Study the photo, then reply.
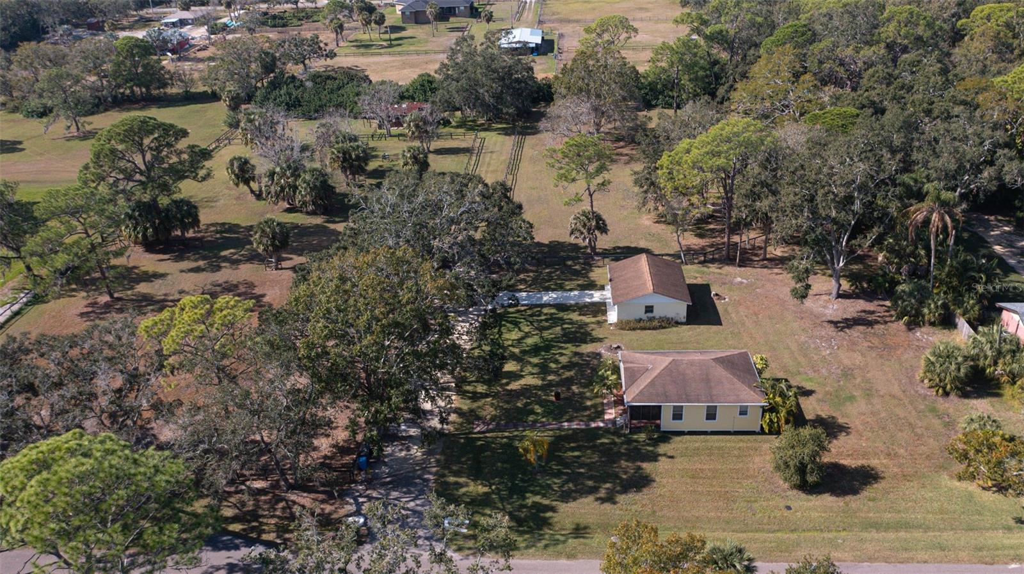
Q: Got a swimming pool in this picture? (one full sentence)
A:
No, there's no swimming pool here.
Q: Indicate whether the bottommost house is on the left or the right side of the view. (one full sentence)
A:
The bottommost house sits on the right side.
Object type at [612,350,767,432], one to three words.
house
